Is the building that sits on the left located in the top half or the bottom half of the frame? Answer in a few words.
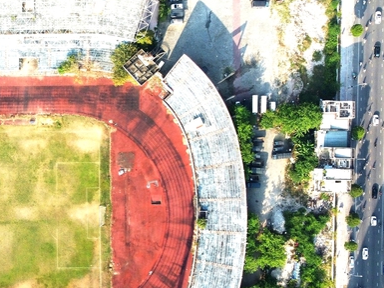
top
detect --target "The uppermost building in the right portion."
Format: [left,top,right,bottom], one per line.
[306,101,359,120]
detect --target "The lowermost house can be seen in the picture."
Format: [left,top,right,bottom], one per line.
[303,179,353,194]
